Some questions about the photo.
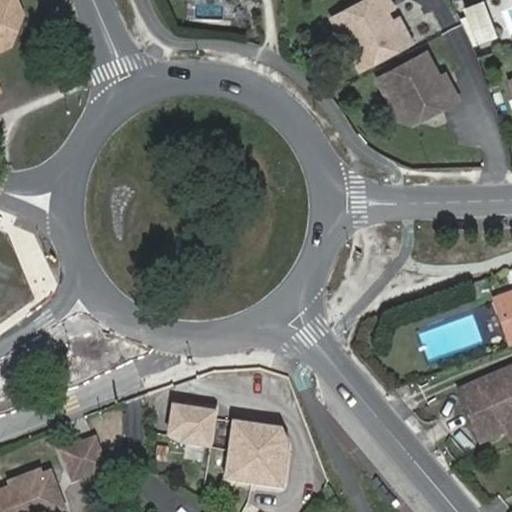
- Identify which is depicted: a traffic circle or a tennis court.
traffic circle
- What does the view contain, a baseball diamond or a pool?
pool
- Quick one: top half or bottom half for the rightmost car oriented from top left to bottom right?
bottom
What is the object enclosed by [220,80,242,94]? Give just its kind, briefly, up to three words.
vehicle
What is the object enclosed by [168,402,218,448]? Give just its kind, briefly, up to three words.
house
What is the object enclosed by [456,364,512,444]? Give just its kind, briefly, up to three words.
house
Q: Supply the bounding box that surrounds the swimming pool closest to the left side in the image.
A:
[195,4,224,19]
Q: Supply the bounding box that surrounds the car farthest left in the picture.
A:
[168,66,190,78]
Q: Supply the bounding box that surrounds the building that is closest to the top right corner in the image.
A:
[461,2,498,47]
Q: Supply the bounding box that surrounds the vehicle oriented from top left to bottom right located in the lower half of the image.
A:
[336,384,357,407]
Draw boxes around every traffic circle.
[48,60,346,358]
